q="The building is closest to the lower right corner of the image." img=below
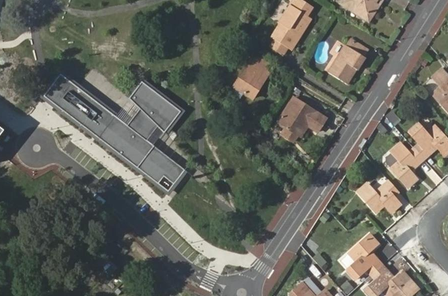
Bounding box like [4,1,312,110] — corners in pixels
[386,269,417,296]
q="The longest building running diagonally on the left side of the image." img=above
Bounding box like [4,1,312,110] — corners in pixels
[44,73,184,192]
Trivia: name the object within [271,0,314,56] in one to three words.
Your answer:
house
